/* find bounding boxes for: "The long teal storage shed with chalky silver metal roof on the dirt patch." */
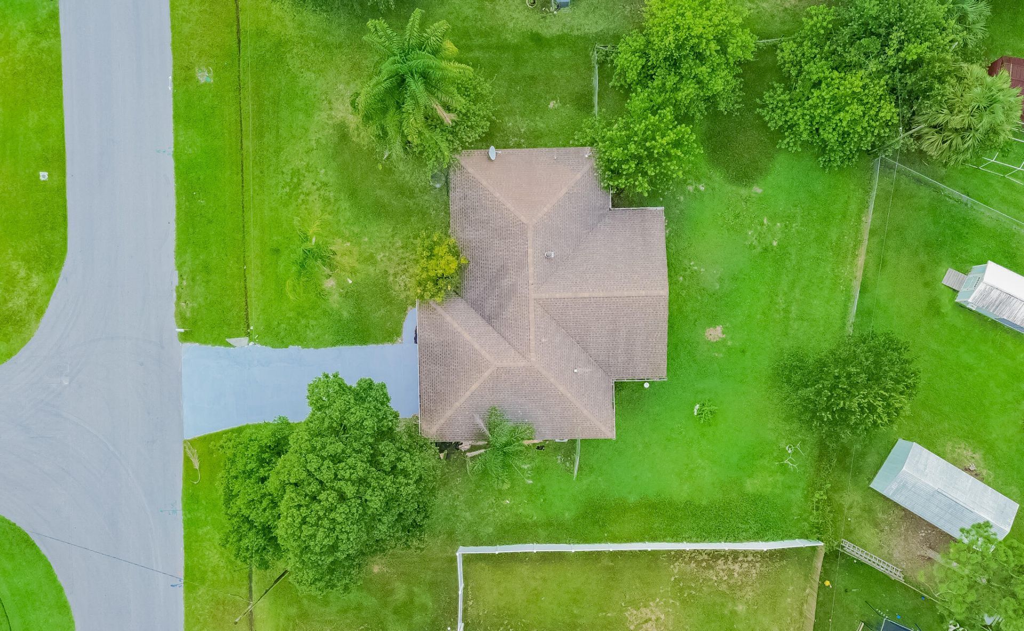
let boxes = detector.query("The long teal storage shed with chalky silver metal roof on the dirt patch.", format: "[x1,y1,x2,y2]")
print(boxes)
[869,438,1018,555]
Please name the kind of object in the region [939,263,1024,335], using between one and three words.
shed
